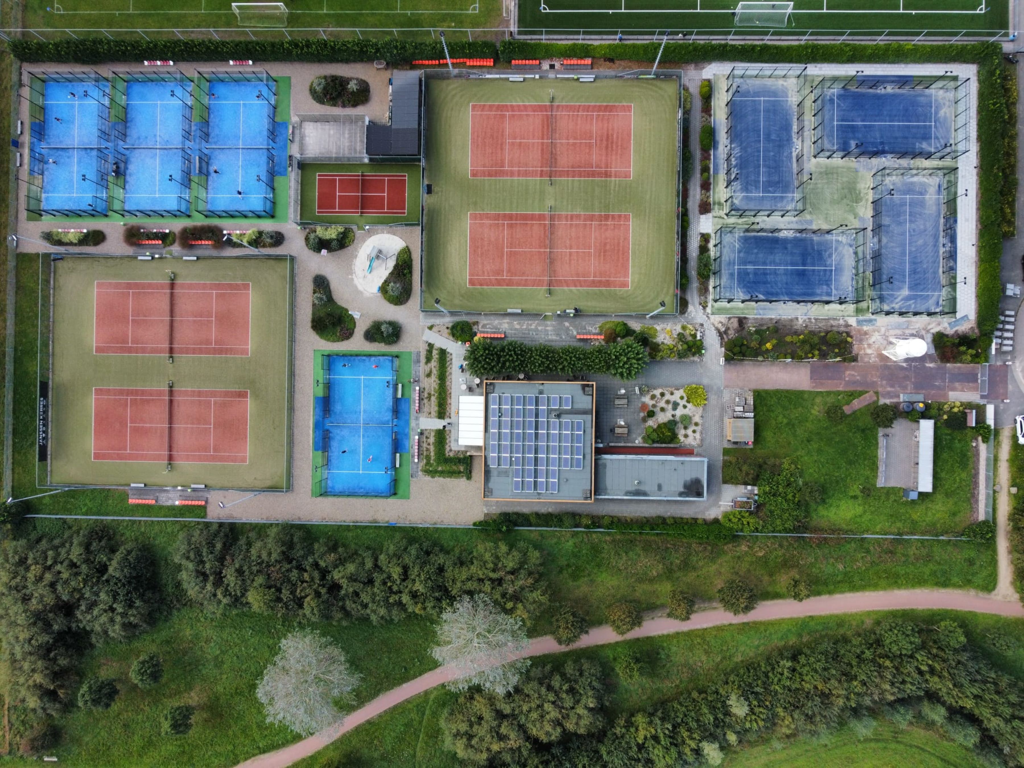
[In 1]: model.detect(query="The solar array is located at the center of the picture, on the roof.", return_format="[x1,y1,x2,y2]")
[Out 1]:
[490,394,584,492]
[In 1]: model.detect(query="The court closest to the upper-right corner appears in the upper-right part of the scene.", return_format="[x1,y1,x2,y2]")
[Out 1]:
[813,67,970,160]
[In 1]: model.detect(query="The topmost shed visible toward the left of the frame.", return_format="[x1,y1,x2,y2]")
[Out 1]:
[366,71,421,159]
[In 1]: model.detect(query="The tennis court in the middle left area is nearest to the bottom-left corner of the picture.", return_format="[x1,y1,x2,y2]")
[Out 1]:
[92,382,249,469]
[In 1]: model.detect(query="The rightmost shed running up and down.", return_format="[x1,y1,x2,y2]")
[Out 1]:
[909,420,934,492]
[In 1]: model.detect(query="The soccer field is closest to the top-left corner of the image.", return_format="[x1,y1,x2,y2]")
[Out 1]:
[22,0,510,40]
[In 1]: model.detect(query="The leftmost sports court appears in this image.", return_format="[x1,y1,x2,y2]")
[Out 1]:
[13,70,111,217]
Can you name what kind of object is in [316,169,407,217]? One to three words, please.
tennis court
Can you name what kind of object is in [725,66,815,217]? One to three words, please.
sports court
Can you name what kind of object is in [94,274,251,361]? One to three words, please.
tennis court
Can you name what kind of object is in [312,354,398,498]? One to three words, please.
sports court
